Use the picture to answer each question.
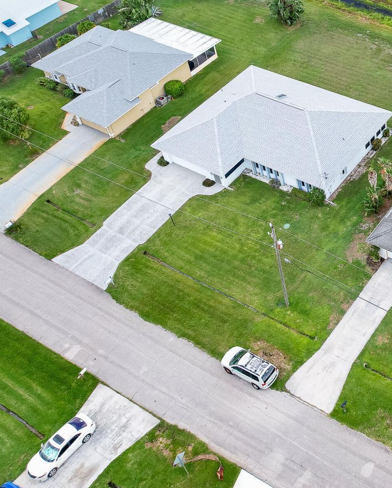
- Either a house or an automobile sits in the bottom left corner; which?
automobile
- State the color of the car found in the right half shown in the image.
white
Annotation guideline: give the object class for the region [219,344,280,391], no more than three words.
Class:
car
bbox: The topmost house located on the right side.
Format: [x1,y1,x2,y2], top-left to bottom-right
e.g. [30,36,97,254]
[149,65,392,208]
